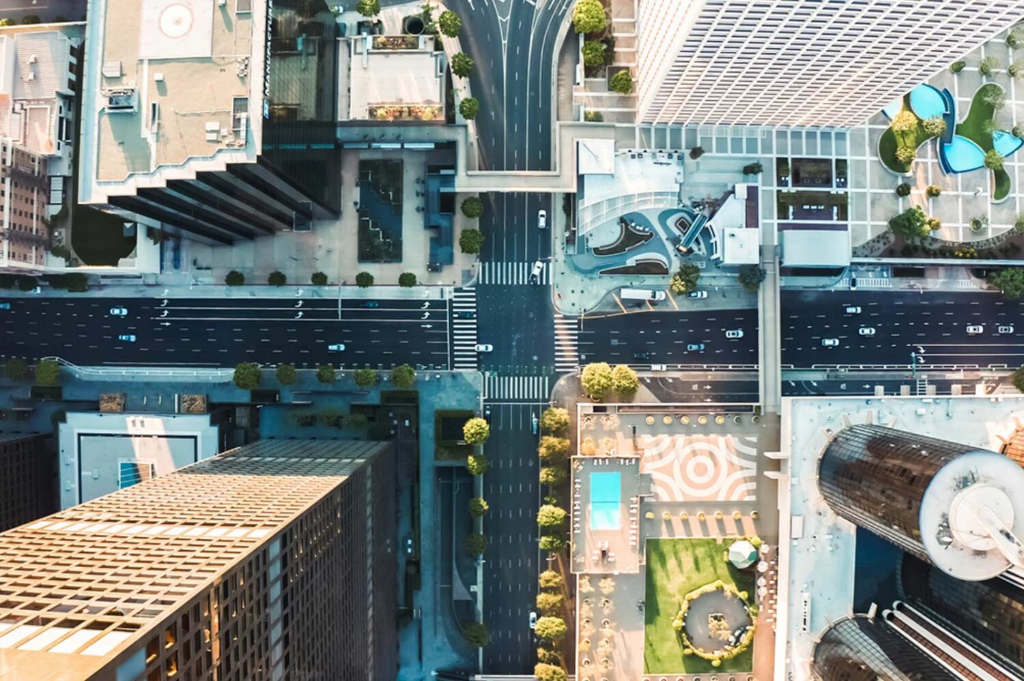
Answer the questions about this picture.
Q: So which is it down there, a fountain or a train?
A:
fountain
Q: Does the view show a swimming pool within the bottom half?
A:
Yes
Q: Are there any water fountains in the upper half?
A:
Yes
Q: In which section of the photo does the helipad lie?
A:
top left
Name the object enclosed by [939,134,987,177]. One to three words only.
swimming pool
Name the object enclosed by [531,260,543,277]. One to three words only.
vehicle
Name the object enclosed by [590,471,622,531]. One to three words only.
swimming pool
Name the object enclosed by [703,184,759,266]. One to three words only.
building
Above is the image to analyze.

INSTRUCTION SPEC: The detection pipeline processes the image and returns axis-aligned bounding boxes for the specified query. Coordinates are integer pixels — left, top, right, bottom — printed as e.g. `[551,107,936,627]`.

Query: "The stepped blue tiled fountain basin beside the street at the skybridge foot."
[425,162,456,264]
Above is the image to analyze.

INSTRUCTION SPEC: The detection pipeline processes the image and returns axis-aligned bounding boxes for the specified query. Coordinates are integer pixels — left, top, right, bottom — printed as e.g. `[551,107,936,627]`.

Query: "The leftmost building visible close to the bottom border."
[0,440,394,681]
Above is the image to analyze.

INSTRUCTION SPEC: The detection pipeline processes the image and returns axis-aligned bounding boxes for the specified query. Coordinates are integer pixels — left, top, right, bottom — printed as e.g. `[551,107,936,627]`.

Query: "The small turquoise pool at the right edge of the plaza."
[992,129,1024,160]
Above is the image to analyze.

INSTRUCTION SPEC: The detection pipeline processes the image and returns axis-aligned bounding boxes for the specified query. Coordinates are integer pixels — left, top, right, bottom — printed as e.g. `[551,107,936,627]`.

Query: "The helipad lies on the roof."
[140,0,214,58]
